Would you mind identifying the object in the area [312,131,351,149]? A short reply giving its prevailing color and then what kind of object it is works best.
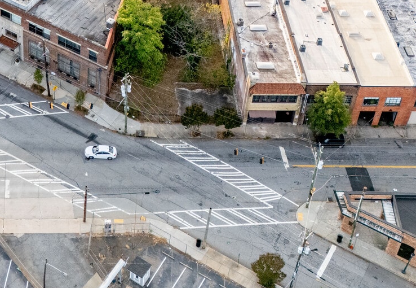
black car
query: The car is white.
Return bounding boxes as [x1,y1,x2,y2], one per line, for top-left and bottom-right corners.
[83,145,118,162]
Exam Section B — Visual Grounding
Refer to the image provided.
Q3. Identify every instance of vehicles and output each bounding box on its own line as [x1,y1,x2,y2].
[312,131,351,149]
[83,145,118,162]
